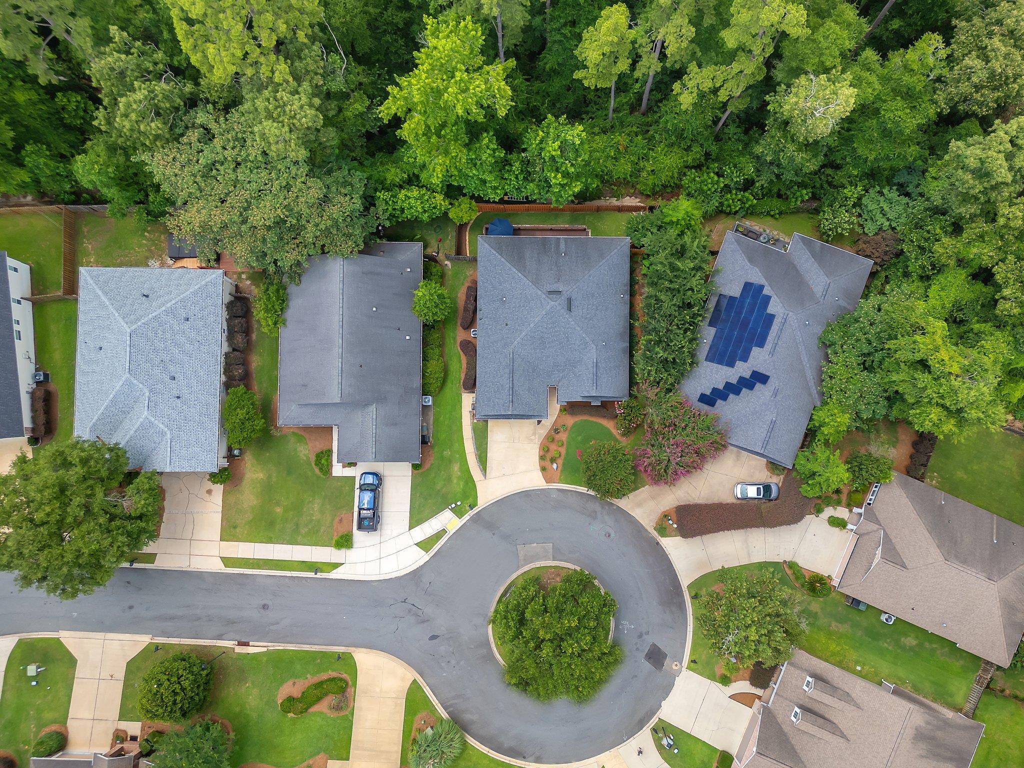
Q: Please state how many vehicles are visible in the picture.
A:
2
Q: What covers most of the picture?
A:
trees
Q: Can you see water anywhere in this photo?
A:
No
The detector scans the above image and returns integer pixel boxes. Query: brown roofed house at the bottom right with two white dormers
[734,647,986,768]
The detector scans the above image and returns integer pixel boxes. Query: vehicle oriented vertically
[356,471,383,534]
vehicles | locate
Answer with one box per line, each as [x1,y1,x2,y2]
[733,480,779,504]
[356,471,383,534]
